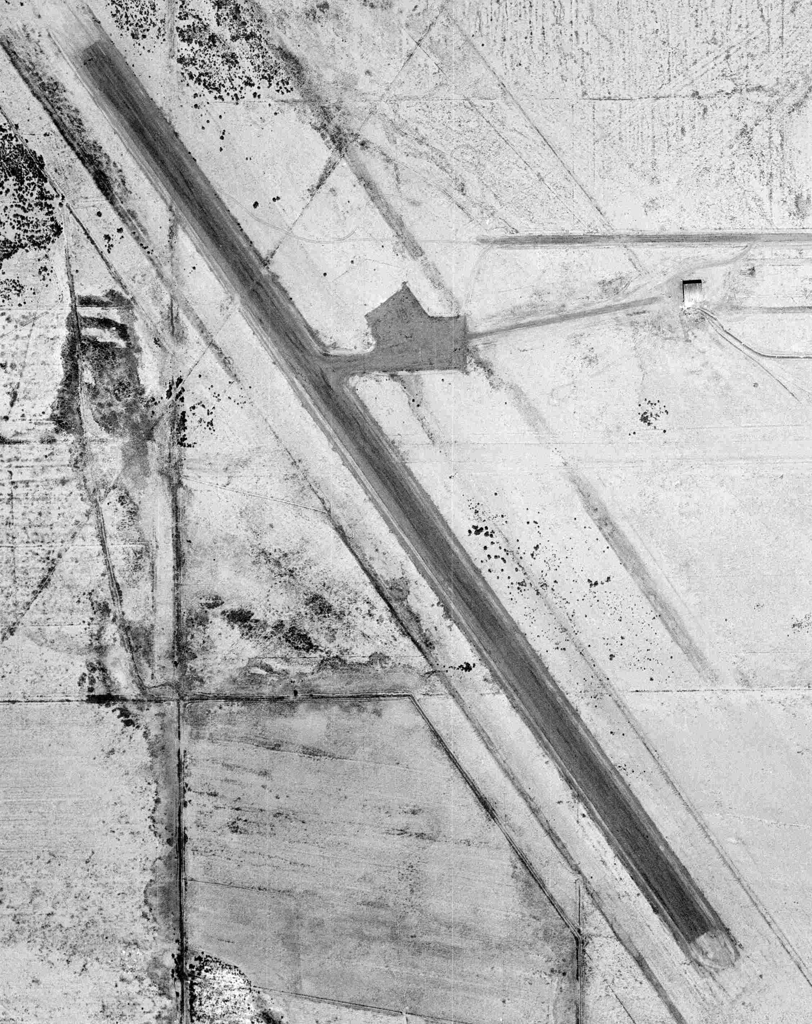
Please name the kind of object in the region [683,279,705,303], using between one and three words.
hangar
